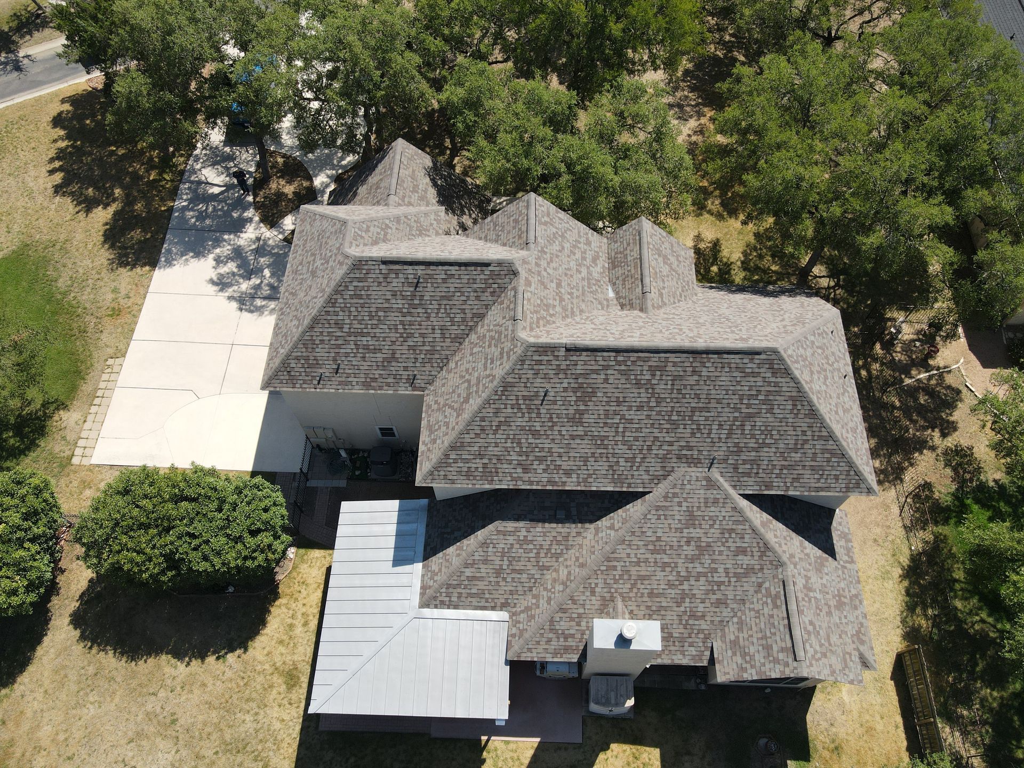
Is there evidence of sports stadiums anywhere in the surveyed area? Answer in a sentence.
No, no sports stadium is visible in the scene.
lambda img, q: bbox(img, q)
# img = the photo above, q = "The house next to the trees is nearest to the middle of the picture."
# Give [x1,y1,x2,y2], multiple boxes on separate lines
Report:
[260,139,878,725]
